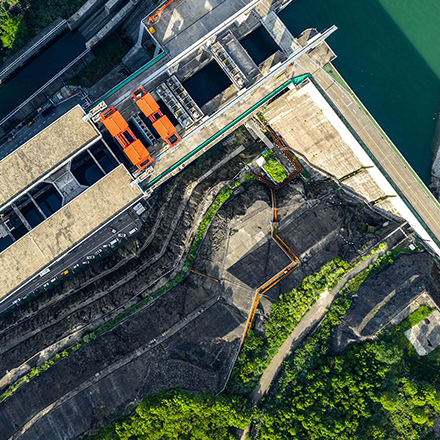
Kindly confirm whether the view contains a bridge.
Yes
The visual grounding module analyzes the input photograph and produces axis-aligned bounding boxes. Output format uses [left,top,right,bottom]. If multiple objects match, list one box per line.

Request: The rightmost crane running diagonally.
[128,84,184,150]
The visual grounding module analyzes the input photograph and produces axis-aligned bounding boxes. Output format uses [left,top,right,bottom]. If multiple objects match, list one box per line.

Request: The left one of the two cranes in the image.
[98,103,155,175]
